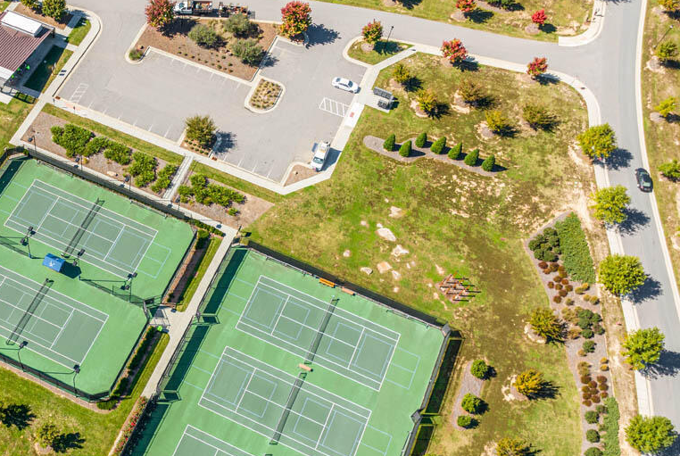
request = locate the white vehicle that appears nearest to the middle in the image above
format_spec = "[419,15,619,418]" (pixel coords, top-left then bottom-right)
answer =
[313,137,333,171]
